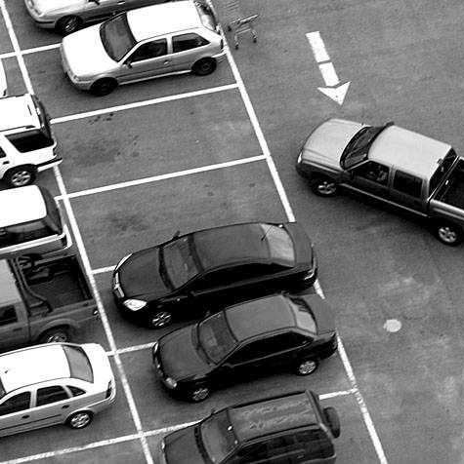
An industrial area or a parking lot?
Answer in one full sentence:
The picture captures a parking lot.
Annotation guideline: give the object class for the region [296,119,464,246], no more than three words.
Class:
truck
